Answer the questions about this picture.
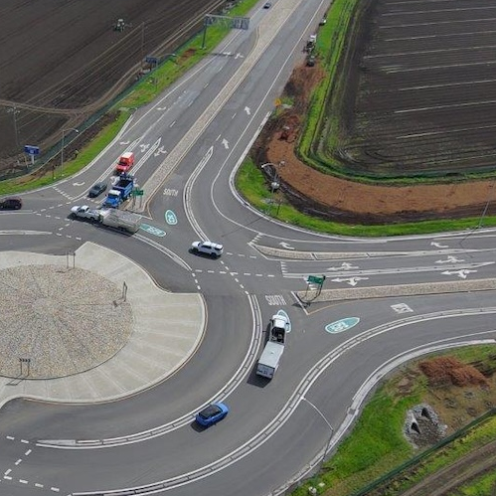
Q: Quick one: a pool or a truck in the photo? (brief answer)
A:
truck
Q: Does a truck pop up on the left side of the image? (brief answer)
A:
Yes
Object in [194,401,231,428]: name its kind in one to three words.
car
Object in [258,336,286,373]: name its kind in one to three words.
trailer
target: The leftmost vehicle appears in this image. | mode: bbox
[0,195,22,210]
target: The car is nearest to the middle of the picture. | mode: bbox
[189,240,226,260]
